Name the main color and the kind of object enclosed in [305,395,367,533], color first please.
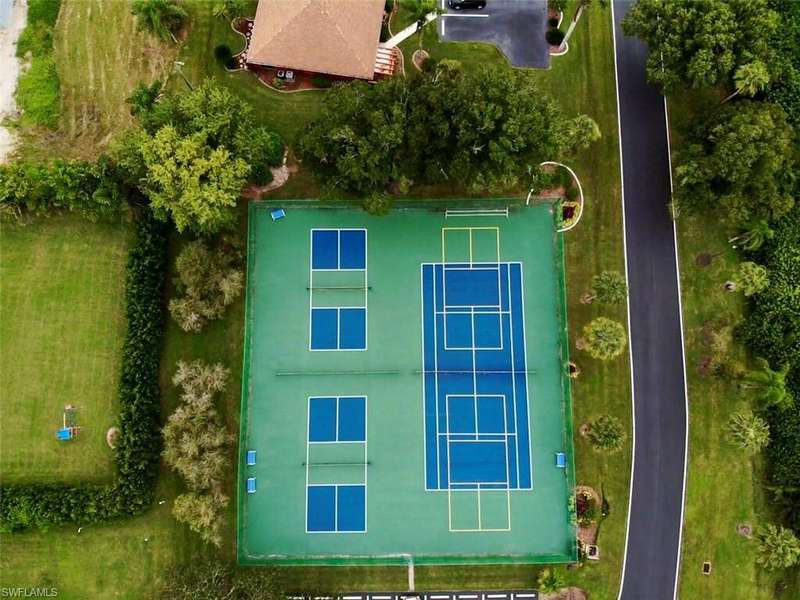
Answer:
blue sports court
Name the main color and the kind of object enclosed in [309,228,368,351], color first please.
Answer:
blue sports court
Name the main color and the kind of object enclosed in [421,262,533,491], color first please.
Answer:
blue tennis court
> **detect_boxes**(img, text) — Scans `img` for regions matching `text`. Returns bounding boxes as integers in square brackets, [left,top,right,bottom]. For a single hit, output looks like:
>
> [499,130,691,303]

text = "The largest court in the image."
[246,206,568,558]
